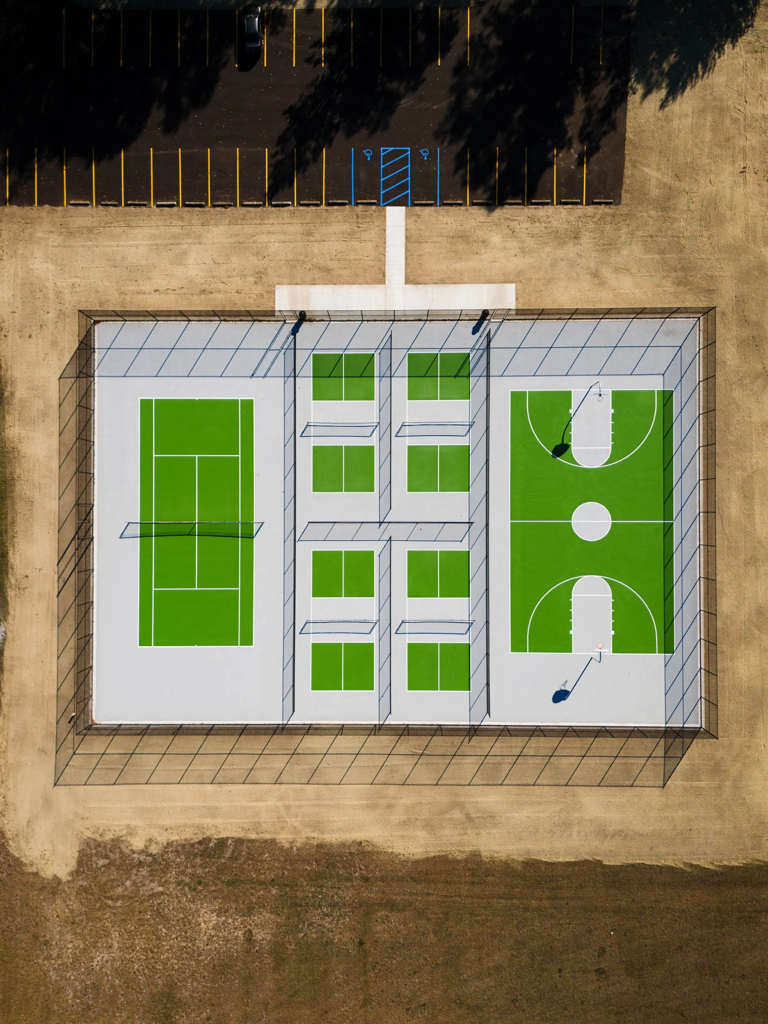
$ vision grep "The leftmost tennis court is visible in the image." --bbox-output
[138,398,254,646]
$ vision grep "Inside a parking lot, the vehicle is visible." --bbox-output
[241,3,264,51]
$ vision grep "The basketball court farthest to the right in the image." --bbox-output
[510,389,675,654]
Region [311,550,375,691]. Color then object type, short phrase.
green sports court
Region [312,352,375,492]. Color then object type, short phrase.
green sports court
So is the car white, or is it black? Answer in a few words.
black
